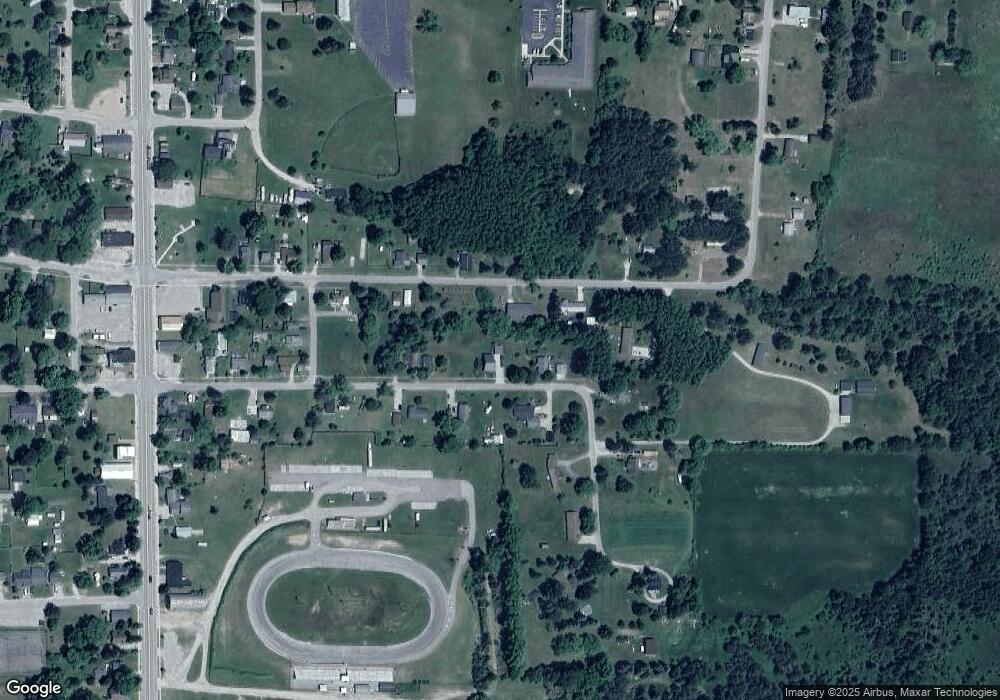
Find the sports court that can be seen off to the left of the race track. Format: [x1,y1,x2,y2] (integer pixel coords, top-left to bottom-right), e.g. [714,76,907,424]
[0,632,45,672]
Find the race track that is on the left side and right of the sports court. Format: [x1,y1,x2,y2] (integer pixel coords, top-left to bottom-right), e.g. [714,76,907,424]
[247,548,451,665]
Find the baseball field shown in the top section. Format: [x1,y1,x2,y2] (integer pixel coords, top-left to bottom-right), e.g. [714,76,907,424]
[319,97,398,178]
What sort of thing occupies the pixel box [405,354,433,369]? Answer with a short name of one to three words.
house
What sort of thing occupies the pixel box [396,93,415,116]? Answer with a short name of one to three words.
building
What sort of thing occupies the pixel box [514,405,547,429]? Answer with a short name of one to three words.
house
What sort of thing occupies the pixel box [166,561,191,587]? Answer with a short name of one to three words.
barn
